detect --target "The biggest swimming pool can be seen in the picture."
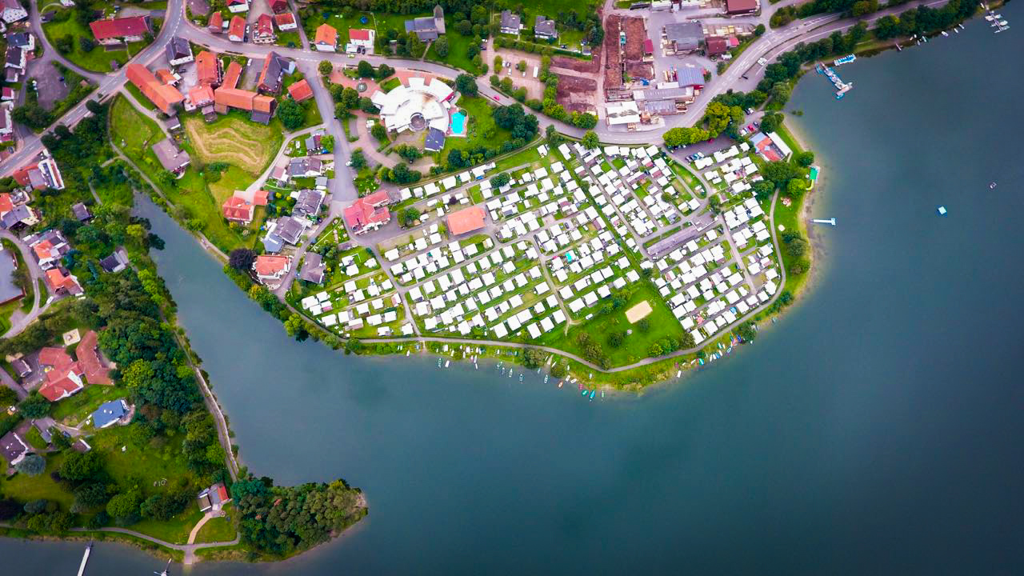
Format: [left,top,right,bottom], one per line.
[447,106,468,137]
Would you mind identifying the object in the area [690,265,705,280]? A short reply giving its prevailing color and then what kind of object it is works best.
white camper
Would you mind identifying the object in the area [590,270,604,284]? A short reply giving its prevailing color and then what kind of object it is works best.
white camper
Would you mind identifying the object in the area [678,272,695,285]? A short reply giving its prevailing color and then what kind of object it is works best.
white vehicle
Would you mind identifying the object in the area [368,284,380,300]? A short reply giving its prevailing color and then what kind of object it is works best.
white vehicle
